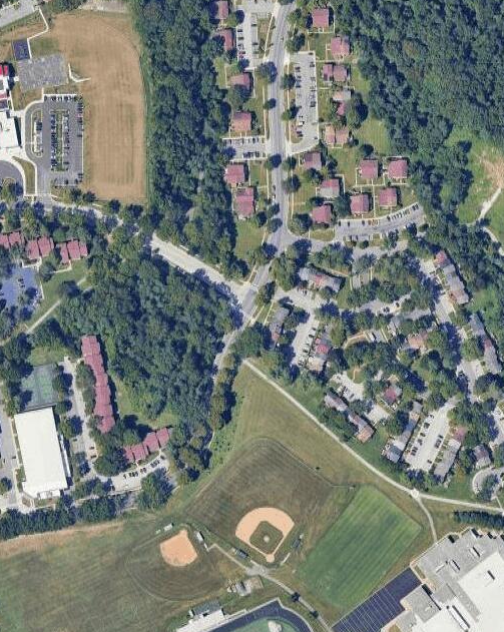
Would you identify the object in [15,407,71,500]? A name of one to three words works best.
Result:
building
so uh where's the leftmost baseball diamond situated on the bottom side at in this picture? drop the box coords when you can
[160,529,197,567]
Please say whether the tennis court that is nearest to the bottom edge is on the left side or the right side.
left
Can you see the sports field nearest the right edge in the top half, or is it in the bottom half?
bottom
